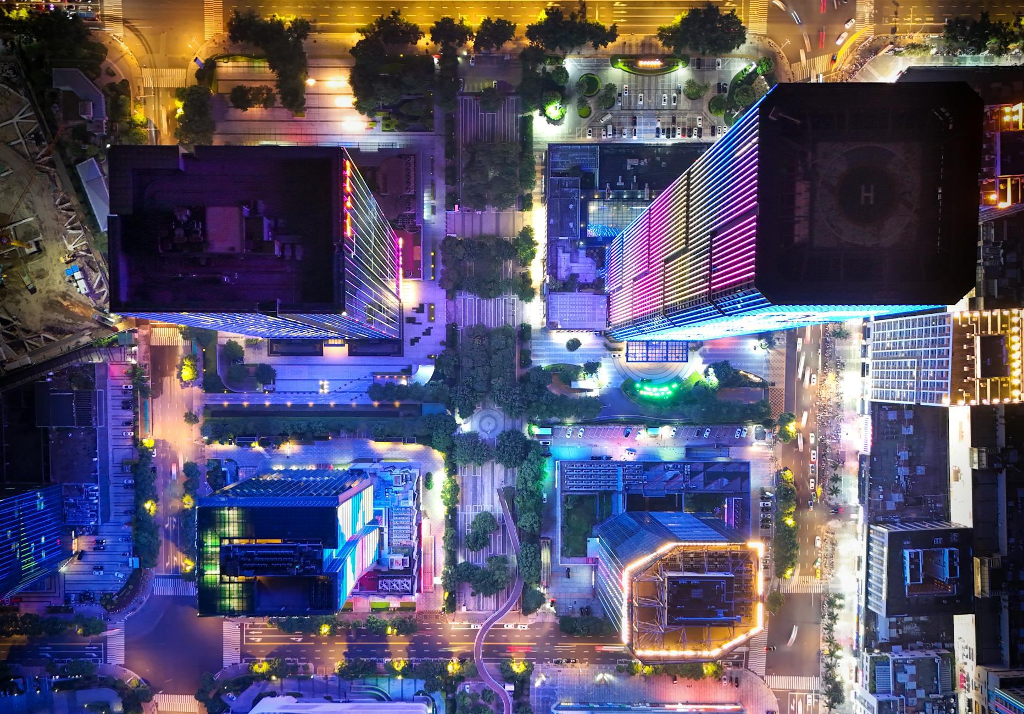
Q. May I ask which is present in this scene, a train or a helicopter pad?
helicopter pad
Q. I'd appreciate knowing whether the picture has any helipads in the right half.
Yes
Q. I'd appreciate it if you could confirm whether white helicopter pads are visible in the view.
No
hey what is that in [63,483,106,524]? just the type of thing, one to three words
building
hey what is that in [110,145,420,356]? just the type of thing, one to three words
building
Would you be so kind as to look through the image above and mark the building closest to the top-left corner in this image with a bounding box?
[52,67,115,139]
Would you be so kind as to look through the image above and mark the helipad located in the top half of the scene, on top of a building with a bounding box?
[814,144,917,246]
